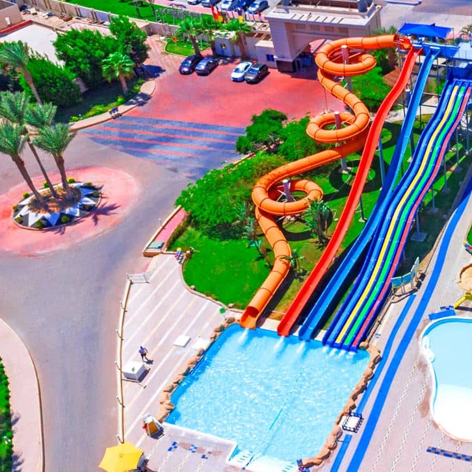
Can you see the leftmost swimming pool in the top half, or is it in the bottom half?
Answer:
bottom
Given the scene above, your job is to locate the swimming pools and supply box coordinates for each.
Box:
[162,323,370,472]
[418,316,472,441]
